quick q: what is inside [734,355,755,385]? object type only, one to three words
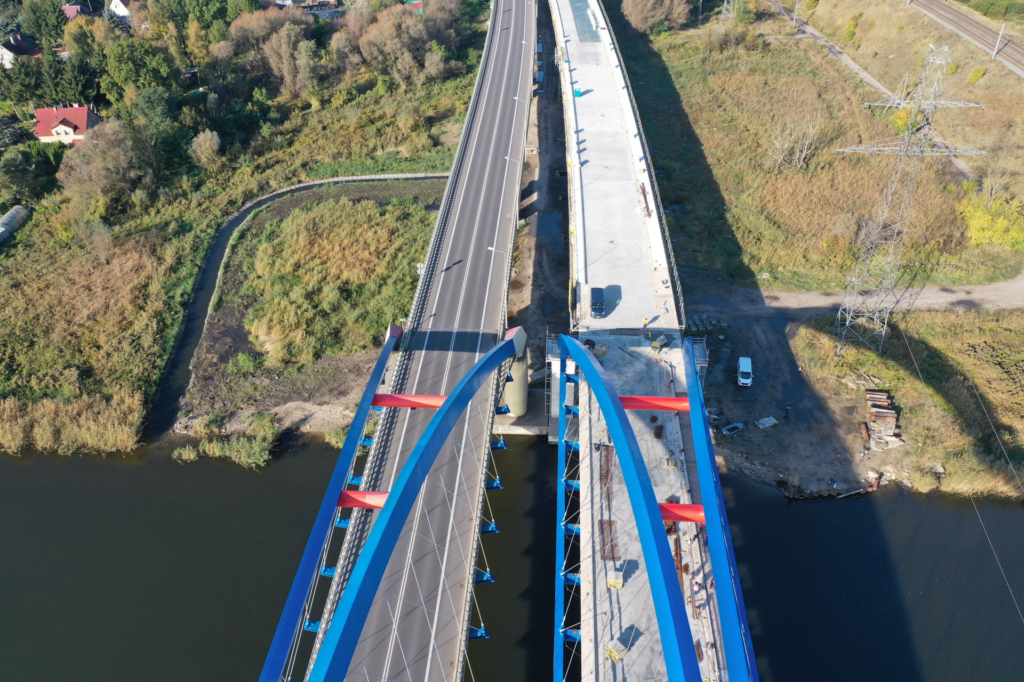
vehicle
